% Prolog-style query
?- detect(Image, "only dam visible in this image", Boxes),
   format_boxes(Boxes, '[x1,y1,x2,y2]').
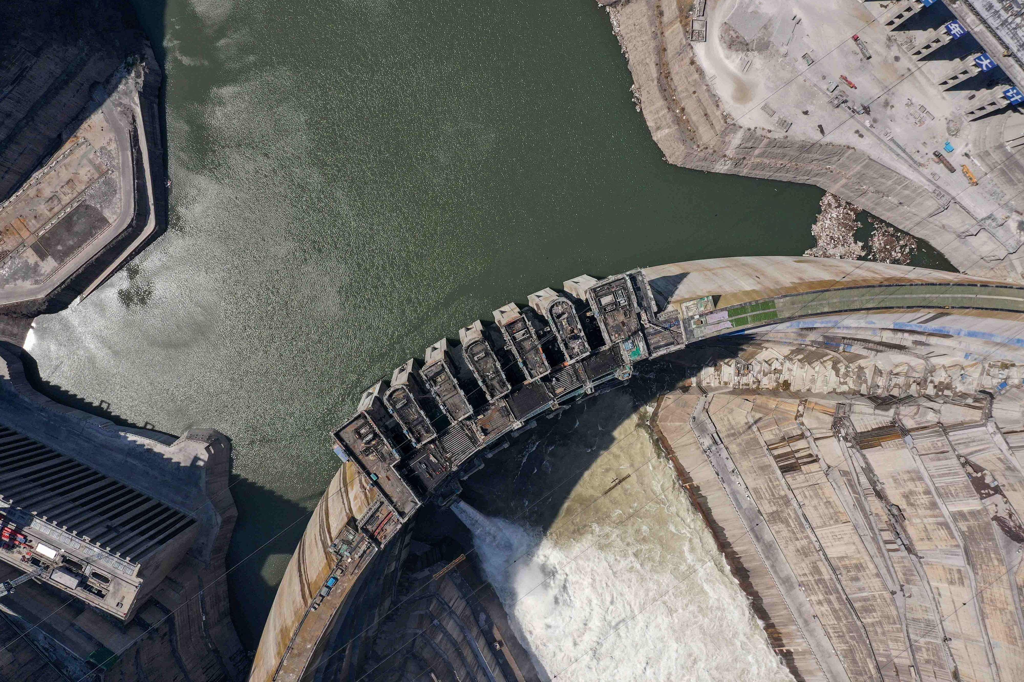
[250,257,1024,682]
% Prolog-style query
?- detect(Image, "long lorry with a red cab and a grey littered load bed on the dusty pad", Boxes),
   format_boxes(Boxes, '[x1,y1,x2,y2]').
[853,33,874,60]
